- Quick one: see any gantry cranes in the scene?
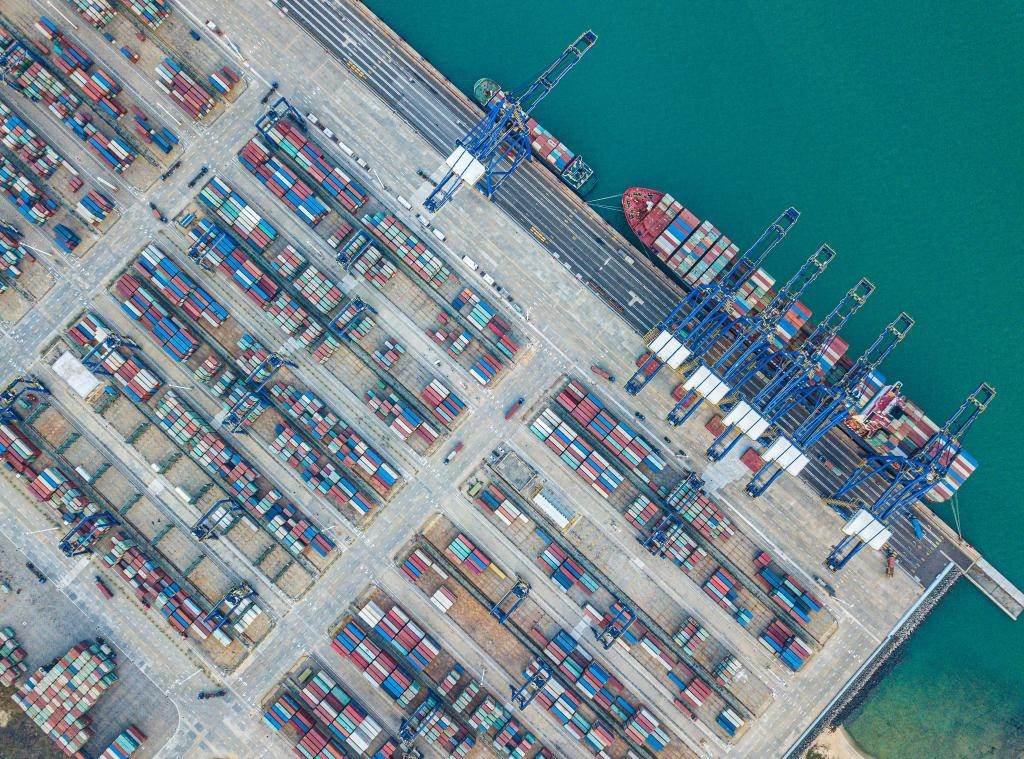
Yes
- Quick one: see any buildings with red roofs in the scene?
No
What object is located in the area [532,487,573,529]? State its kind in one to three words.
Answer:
shed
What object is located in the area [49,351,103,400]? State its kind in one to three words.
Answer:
shed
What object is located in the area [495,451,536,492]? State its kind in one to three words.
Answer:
building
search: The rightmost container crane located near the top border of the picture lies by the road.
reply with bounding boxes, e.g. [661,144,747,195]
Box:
[422,29,595,210]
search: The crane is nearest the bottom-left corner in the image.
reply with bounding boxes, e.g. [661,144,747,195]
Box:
[58,509,119,557]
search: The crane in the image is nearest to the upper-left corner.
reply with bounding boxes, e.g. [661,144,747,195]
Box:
[0,39,47,94]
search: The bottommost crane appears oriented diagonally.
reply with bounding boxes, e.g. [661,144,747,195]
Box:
[396,687,443,744]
